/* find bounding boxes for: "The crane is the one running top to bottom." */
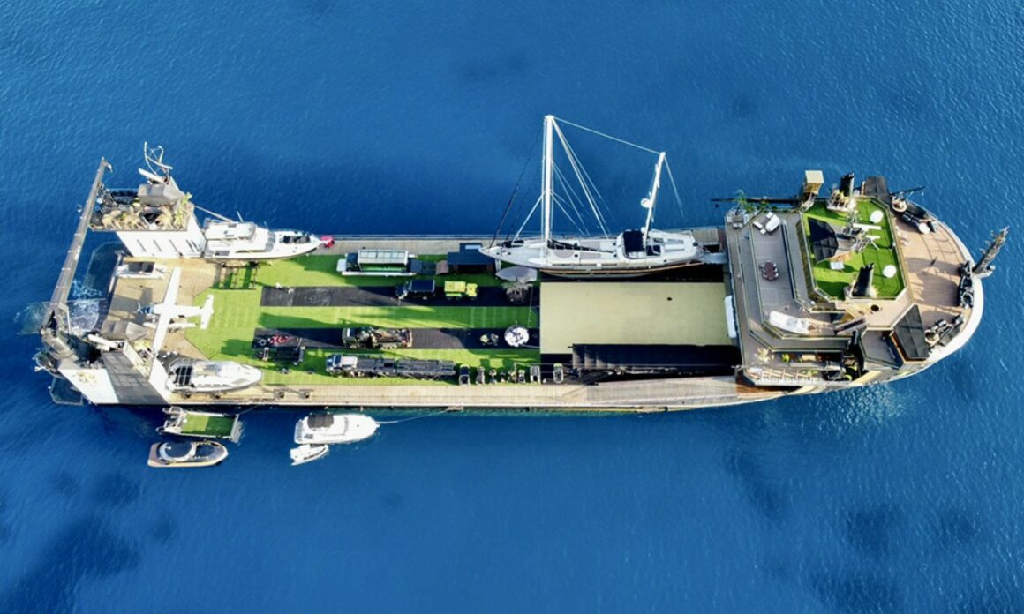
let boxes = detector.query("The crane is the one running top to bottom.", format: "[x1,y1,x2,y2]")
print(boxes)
[33,159,121,369]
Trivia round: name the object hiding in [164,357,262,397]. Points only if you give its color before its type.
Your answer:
white boat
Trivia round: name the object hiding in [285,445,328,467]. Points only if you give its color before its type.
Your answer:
white boat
